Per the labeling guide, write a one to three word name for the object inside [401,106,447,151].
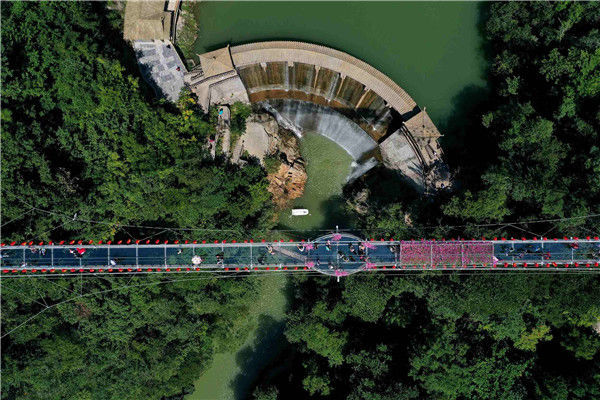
building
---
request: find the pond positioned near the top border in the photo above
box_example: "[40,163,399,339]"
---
[189,0,490,152]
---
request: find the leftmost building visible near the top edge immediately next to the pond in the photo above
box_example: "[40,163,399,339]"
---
[121,0,173,40]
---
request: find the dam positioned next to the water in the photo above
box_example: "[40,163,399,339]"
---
[235,61,402,161]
